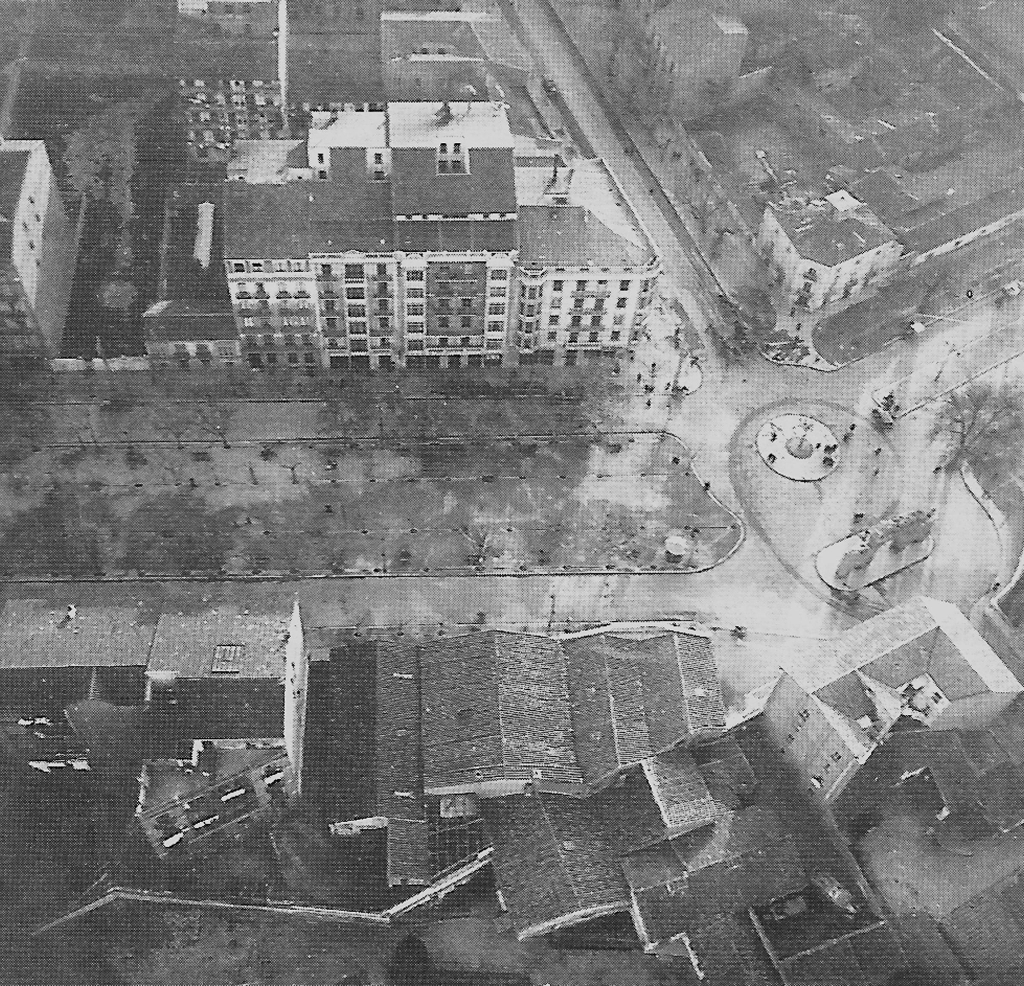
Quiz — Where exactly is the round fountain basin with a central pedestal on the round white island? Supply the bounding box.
[785,435,817,461]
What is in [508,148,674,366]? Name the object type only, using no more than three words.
building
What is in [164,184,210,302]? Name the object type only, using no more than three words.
building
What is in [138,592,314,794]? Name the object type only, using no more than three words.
house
